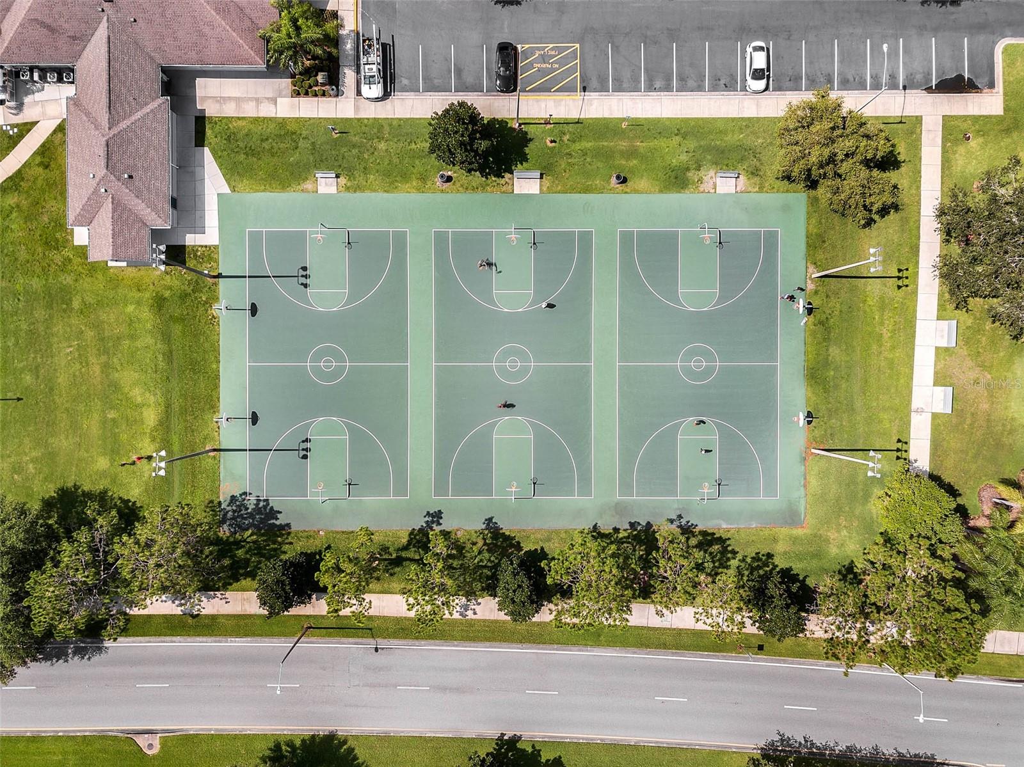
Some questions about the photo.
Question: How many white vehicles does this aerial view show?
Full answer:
Looking from above, you can make out 2 white vehicles.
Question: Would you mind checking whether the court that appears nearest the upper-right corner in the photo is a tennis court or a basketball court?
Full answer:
The court that appears nearest the upper-right corner appears to be a basketball court.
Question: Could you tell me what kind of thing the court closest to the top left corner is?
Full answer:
The court closest to the top left corner appears to be a basketball court.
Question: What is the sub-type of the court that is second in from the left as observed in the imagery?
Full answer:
What you see as the court that is second in from the left is a basketball court.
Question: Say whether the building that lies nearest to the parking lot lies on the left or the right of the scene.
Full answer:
You can find the building that lies nearest to the parking lot on the left side of the picture.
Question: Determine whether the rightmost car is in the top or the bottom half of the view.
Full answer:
It is in the top half that the rightmost car appears.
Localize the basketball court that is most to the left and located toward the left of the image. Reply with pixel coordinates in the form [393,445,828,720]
[247,229,409,498]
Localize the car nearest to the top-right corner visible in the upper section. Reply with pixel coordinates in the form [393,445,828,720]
[744,42,769,94]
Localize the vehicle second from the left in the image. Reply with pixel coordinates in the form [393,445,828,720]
[494,43,518,93]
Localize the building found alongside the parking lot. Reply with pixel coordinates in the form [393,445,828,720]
[0,0,272,265]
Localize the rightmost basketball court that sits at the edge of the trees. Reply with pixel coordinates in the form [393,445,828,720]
[617,229,780,499]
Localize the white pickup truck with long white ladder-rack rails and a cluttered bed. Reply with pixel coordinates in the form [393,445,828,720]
[360,22,385,100]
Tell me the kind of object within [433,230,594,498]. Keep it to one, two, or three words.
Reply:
basketball court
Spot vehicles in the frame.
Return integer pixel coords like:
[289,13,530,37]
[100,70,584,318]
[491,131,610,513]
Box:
[744,42,769,94]
[360,22,385,100]
[494,43,518,93]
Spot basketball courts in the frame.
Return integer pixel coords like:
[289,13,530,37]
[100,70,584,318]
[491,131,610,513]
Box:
[433,230,594,498]
[247,229,409,498]
[617,229,780,499]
